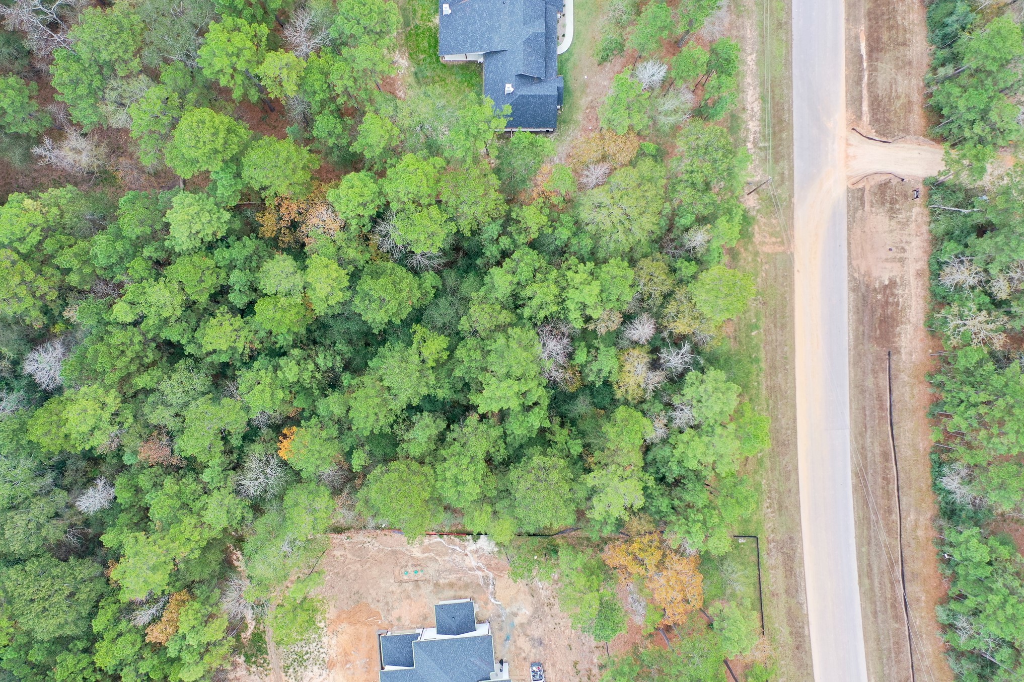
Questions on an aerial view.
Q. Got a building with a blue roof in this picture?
Yes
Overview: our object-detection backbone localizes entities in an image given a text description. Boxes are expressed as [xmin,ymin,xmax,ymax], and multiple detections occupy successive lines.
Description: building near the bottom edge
[376,596,511,682]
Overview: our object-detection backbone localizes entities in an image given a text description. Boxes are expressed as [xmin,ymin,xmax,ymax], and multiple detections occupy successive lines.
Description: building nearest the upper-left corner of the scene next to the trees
[439,0,563,132]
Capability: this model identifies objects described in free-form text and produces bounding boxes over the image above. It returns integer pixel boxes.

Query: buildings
[439,0,563,132]
[376,596,511,682]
